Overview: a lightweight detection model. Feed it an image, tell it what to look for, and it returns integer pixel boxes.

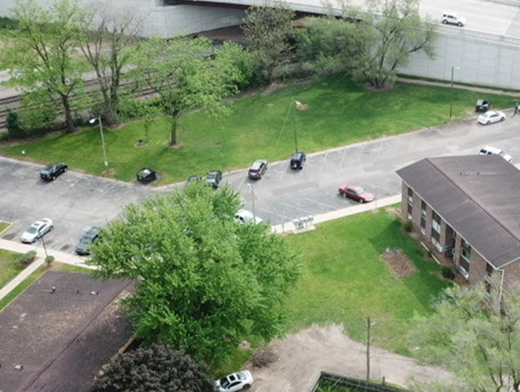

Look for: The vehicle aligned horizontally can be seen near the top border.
[437,11,465,25]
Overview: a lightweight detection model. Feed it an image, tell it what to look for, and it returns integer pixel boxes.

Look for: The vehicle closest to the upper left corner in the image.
[35,157,69,178]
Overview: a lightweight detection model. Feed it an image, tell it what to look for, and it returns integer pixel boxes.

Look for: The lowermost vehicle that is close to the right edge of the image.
[479,139,515,160]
